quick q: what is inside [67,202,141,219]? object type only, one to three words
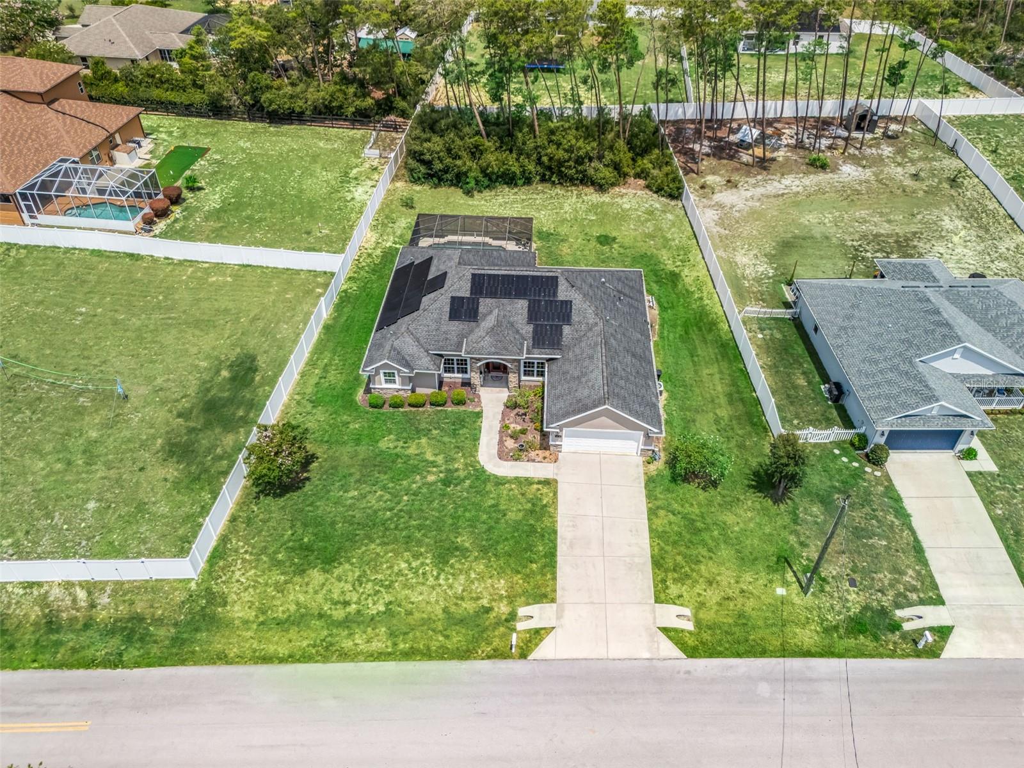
swimming pool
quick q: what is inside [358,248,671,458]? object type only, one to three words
house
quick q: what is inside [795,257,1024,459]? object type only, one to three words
house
